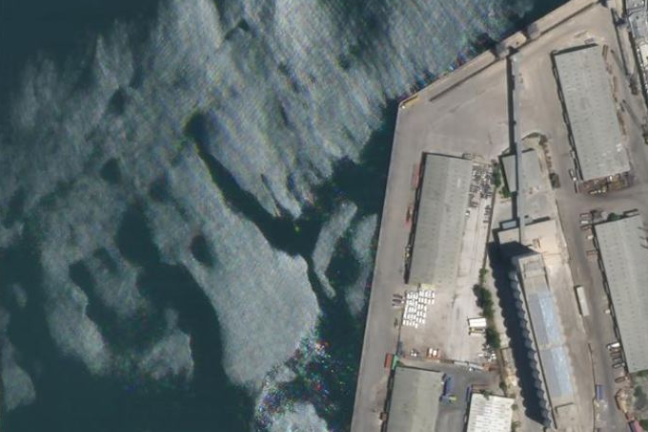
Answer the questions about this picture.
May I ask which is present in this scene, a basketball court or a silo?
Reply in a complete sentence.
Of the two, only a silo appears.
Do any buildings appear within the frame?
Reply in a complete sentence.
Yes, I can see a building in this picture.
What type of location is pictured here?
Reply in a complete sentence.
The area seen from above is a port.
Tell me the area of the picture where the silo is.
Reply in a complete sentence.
The silo is located in the bottom right region of the scene.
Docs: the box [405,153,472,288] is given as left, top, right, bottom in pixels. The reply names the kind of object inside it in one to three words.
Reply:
building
